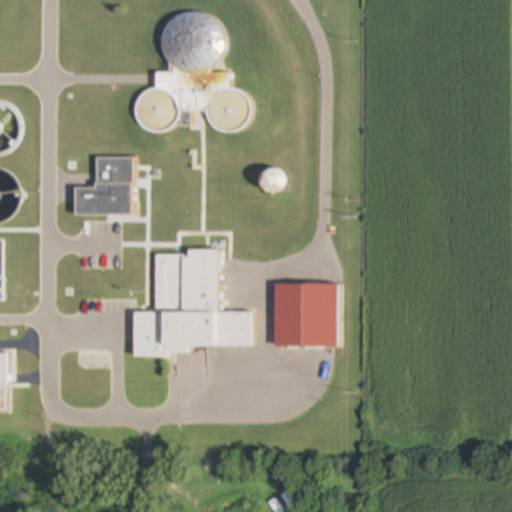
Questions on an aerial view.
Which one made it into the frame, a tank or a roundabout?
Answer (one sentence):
Of the two, only a tank appears.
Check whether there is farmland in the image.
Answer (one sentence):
Yes, the picture does contain farmland.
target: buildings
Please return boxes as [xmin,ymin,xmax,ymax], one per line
[133,248,258,358]
[274,283,343,346]
[0,352,16,412]
[155,60,236,126]
[0,241,8,302]
[74,156,140,216]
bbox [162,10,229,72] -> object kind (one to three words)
storage tank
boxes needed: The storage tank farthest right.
[259,166,288,195]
